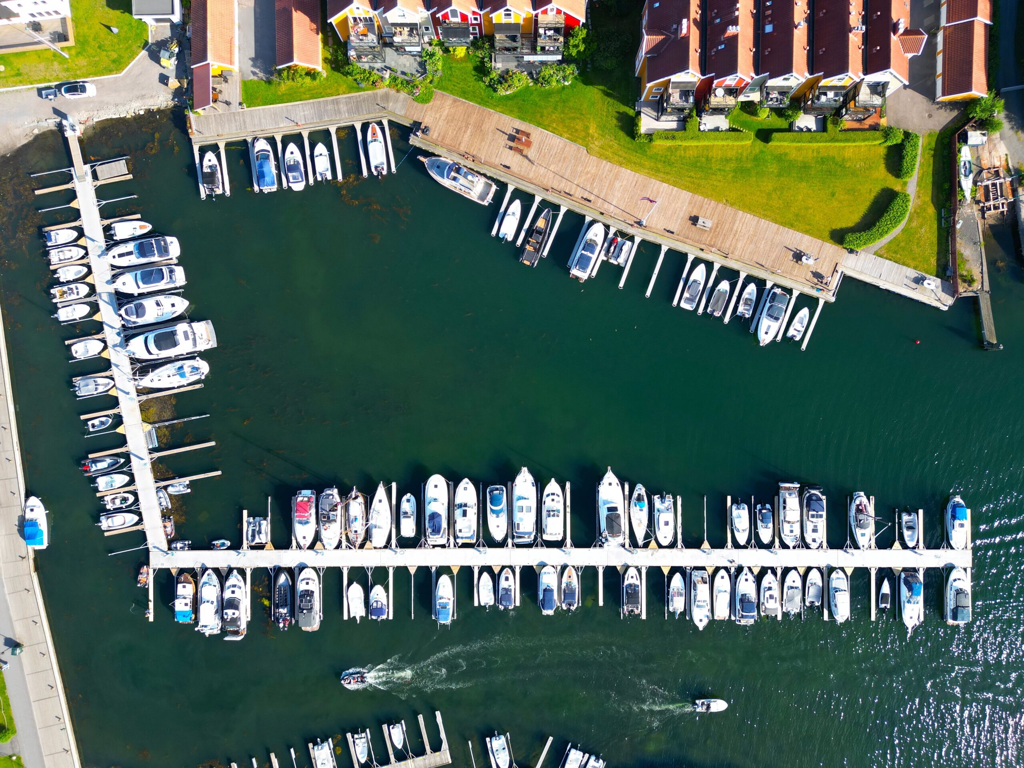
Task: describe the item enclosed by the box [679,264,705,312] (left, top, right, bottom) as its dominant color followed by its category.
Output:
white boat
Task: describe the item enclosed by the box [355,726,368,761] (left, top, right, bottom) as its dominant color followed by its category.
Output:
white boat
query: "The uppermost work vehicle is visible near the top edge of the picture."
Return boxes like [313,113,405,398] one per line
[155,34,183,68]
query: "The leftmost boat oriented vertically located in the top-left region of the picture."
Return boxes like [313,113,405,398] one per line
[199,149,224,199]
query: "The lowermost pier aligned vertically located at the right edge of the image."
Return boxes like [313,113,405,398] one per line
[974,292,1003,350]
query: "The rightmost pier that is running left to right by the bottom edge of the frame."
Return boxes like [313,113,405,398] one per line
[358,748,451,768]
